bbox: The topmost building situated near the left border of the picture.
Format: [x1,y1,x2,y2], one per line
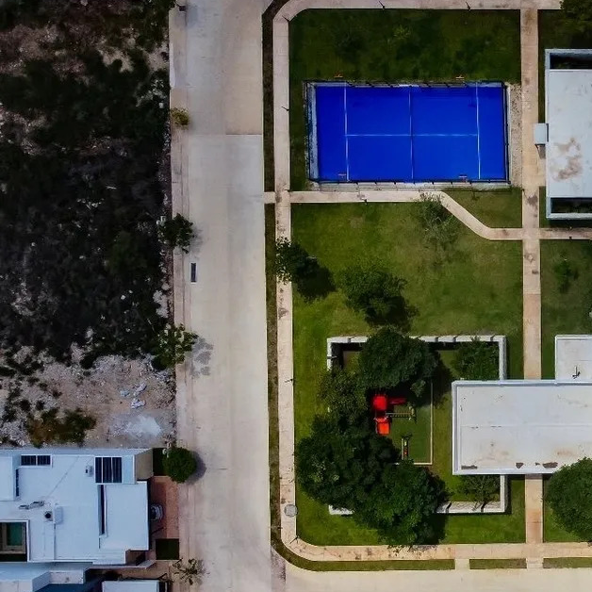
[0,448,166,564]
